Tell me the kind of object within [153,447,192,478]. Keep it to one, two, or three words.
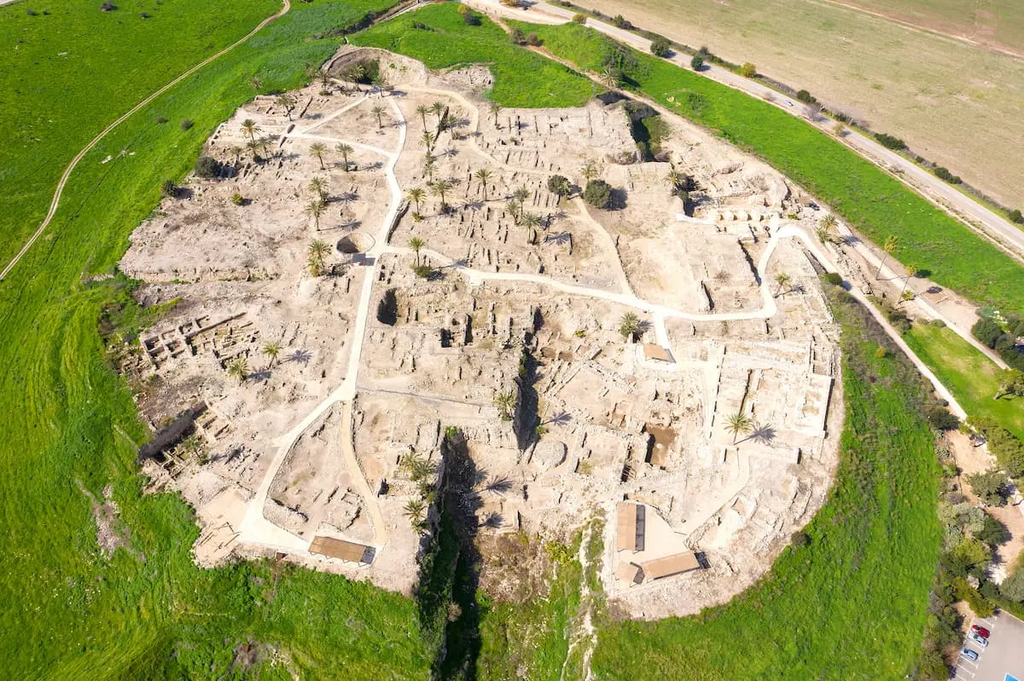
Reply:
building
